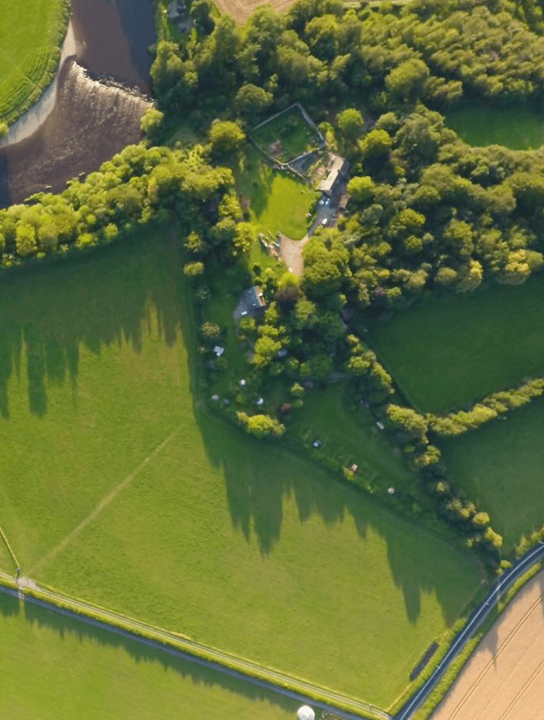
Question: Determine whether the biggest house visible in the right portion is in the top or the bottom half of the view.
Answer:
top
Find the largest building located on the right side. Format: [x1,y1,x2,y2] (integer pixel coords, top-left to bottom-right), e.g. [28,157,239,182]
[316,153,351,192]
